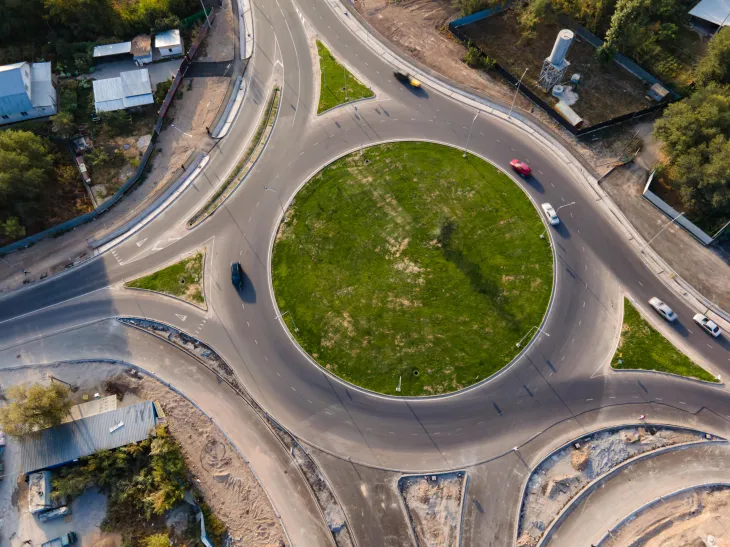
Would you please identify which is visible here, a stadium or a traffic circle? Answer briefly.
traffic circle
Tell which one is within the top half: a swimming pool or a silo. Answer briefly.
silo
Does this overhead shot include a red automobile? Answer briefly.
Yes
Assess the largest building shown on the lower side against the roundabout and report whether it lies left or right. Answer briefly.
left of it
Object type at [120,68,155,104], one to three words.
house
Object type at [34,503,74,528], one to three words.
vehicle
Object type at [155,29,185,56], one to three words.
shed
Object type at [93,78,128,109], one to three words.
house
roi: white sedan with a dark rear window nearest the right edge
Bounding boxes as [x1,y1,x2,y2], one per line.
[691,314,723,337]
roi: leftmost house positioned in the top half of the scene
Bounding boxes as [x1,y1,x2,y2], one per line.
[0,61,58,128]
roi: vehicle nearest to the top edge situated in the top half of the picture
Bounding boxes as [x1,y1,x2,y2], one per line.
[395,73,419,88]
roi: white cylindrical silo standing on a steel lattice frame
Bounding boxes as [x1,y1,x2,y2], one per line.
[538,26,581,92]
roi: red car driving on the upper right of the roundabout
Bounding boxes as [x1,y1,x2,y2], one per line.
[508,159,532,178]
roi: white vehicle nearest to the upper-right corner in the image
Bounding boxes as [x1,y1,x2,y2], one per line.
[540,204,561,226]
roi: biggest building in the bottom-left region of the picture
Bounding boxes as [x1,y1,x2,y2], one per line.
[22,402,159,473]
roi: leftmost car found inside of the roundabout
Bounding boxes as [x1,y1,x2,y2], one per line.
[230,262,245,290]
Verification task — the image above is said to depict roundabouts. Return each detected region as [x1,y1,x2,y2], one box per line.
[212,99,616,466]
